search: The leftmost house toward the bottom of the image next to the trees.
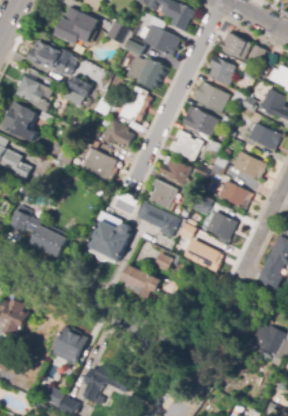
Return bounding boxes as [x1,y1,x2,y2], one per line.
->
[0,300,26,336]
